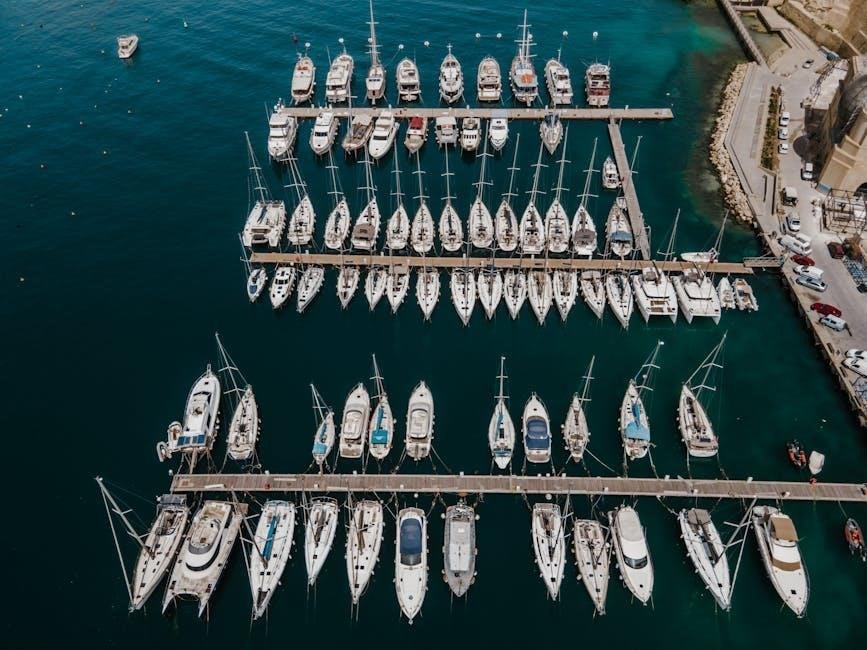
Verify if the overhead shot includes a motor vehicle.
Yes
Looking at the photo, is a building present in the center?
No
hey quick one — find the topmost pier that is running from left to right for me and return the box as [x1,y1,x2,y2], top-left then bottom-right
[290,107,675,121]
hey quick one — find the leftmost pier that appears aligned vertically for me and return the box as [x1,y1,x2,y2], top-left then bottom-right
[606,118,651,259]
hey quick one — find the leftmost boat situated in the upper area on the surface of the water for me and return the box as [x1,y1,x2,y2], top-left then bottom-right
[119,36,139,60]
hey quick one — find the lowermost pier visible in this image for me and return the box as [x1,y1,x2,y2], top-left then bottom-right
[168,474,867,503]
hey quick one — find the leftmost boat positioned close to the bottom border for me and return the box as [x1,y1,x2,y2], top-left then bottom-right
[95,476,196,633]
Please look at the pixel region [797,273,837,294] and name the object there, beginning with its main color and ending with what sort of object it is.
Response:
gray car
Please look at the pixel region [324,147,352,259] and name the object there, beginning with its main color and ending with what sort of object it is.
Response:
white boat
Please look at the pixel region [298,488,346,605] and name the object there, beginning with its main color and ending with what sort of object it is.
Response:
white boat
